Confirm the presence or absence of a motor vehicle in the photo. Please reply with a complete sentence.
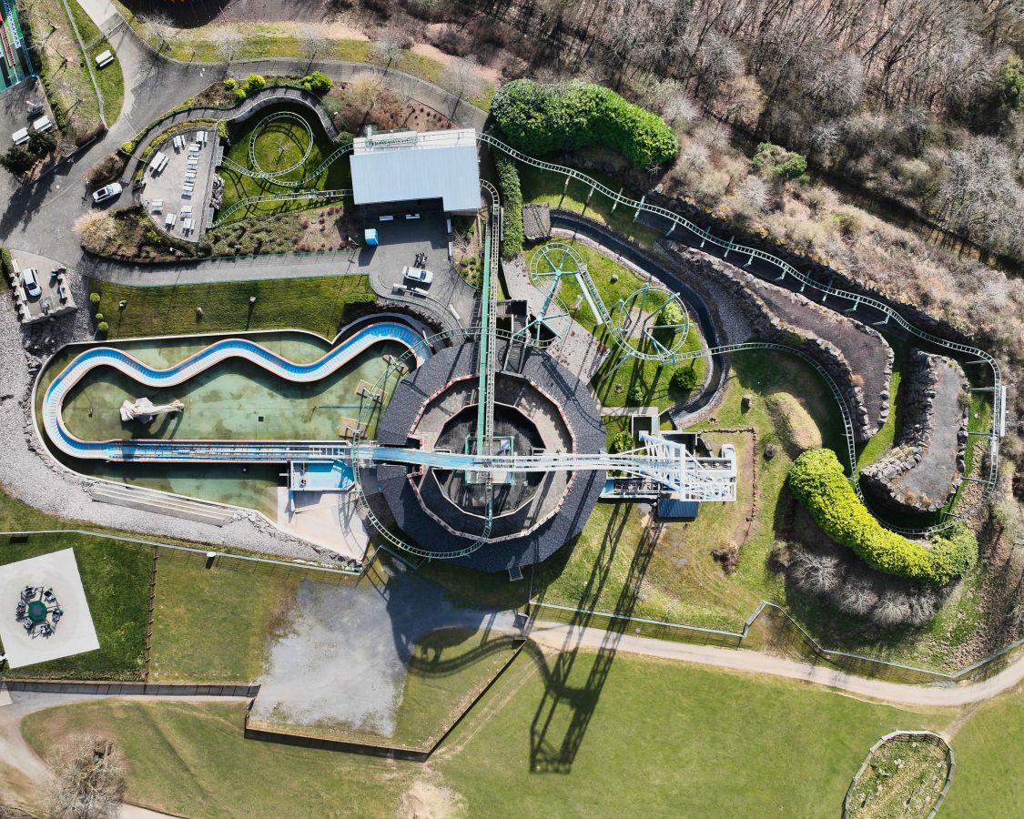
Yes, the frame does contain a motor vehicle.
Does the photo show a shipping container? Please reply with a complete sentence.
No, there's no shipping container here.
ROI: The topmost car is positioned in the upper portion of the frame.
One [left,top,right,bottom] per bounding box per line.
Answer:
[88,181,122,202]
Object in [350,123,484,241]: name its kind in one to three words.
building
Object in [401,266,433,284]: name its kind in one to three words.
vehicle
